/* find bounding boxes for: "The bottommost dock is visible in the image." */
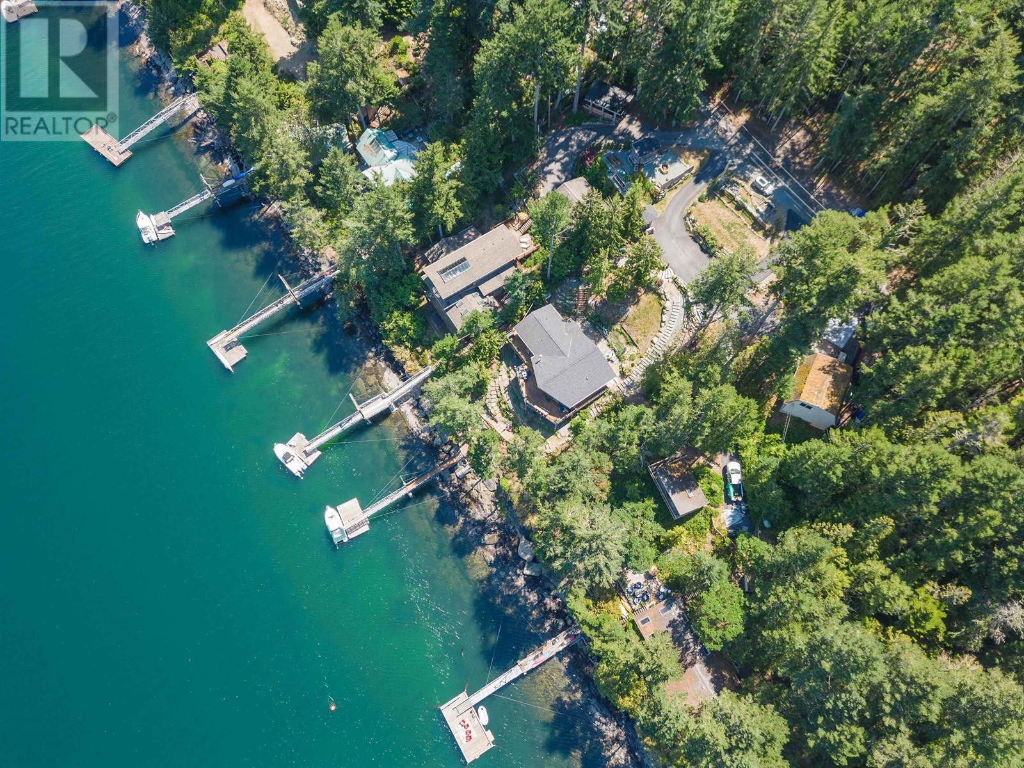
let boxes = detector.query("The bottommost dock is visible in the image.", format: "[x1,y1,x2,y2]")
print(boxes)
[440,691,494,764]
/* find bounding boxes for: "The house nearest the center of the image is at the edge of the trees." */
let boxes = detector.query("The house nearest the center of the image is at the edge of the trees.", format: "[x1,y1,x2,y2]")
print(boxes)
[509,304,616,429]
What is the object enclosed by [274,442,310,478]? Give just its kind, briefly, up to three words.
boat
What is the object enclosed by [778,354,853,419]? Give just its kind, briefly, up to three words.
house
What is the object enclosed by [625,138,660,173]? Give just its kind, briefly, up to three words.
building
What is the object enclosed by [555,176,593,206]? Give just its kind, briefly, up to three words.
shed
